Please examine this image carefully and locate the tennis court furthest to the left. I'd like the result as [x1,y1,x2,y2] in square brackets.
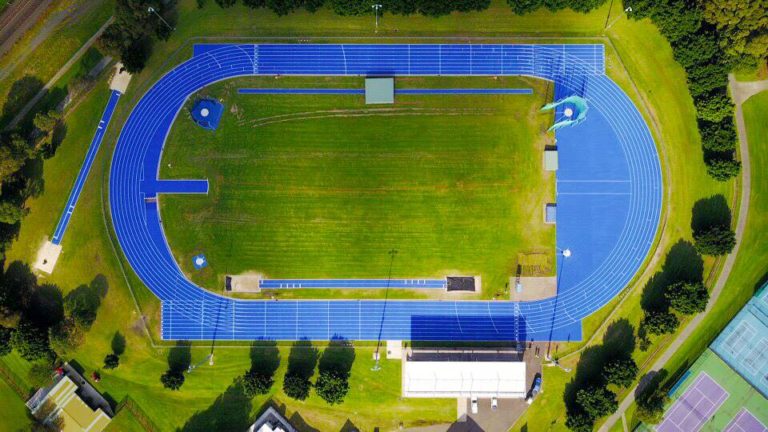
[655,371,730,432]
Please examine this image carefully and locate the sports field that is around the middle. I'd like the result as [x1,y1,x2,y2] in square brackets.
[158,75,558,300]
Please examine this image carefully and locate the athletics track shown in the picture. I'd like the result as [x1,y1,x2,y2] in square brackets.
[109,44,661,340]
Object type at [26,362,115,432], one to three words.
building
